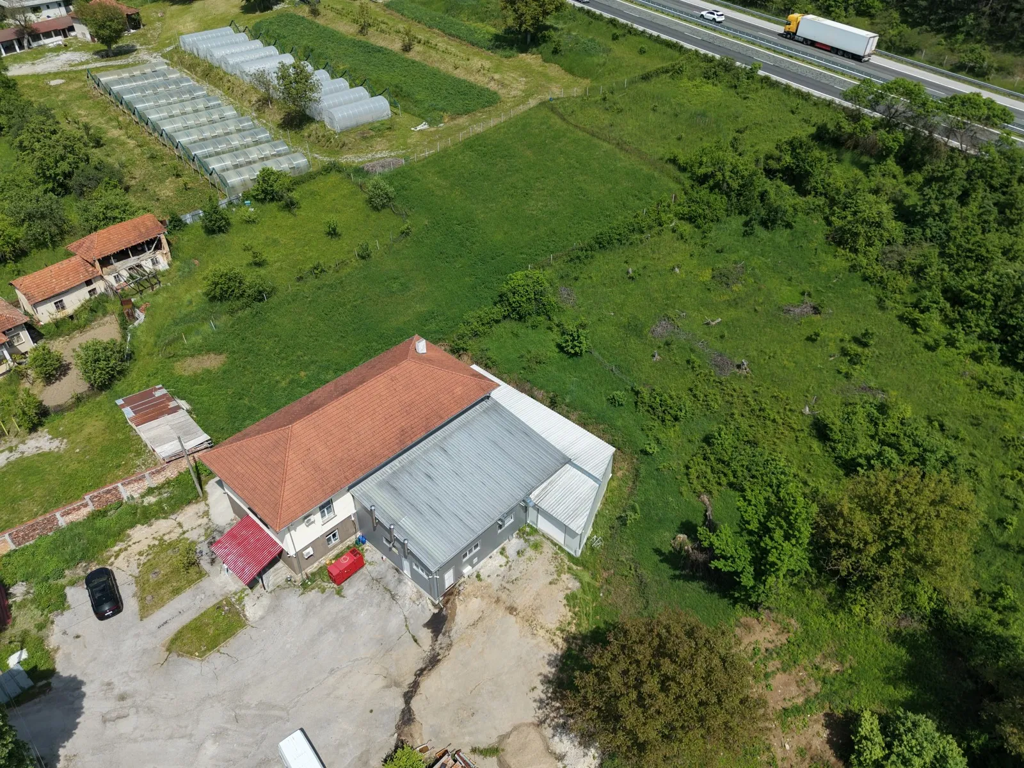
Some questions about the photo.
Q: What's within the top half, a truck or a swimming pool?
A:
truck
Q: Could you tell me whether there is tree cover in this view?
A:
Yes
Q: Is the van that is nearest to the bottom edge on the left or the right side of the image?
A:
left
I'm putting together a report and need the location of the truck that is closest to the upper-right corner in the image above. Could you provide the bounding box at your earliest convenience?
[785,18,870,60]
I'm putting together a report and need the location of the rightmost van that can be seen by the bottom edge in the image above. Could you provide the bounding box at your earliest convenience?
[278,730,328,768]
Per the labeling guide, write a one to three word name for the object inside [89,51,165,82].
greenhouse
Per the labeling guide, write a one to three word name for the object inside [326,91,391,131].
greenhouse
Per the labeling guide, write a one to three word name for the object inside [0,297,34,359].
house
